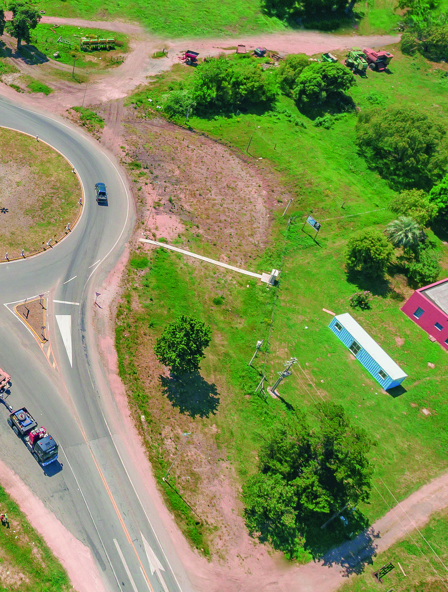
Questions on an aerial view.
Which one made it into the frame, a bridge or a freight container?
freight container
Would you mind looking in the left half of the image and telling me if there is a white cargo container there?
No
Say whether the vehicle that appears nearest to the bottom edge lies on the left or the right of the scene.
left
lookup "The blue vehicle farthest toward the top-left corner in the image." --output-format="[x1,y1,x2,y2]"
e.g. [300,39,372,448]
[96,181,109,203]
